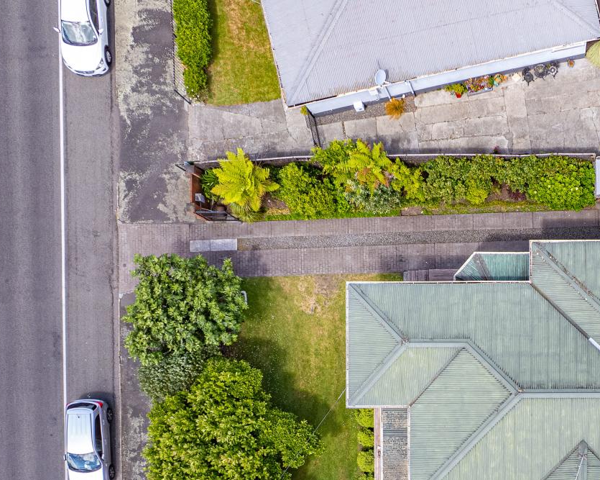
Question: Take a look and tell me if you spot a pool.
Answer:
No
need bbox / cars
[60,399,118,480]
[55,0,115,78]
